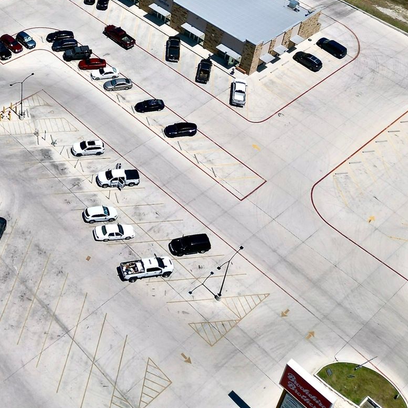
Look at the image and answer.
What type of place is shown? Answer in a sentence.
What you see here is a parking lot.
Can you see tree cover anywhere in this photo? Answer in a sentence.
No, tree cover can't be seen anywhere here.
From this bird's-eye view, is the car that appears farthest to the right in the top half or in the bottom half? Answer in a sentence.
The top half of the photo is where the car that appears farthest to the right is.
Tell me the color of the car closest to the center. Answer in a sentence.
The car closest to the center looks black in the image.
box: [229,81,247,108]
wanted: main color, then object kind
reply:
white vehicle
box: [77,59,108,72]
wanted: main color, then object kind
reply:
red vehicle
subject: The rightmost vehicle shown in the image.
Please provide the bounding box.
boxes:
[314,38,348,60]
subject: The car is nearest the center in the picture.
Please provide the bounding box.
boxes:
[166,231,214,257]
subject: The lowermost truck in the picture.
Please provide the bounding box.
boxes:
[114,254,176,285]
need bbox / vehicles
[96,169,140,190]
[46,28,75,44]
[0,219,7,247]
[166,231,214,257]
[81,206,117,225]
[97,0,109,11]
[84,0,96,6]
[114,254,176,285]
[104,28,135,48]
[314,38,348,60]
[163,120,198,141]
[70,139,106,158]
[89,69,120,83]
[64,45,91,62]
[1,36,22,54]
[292,52,324,73]
[103,79,134,94]
[0,40,11,61]
[229,81,247,108]
[50,37,80,54]
[77,59,108,72]
[90,222,137,245]
[14,30,37,51]
[135,97,165,115]
[164,39,181,63]
[195,62,213,86]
